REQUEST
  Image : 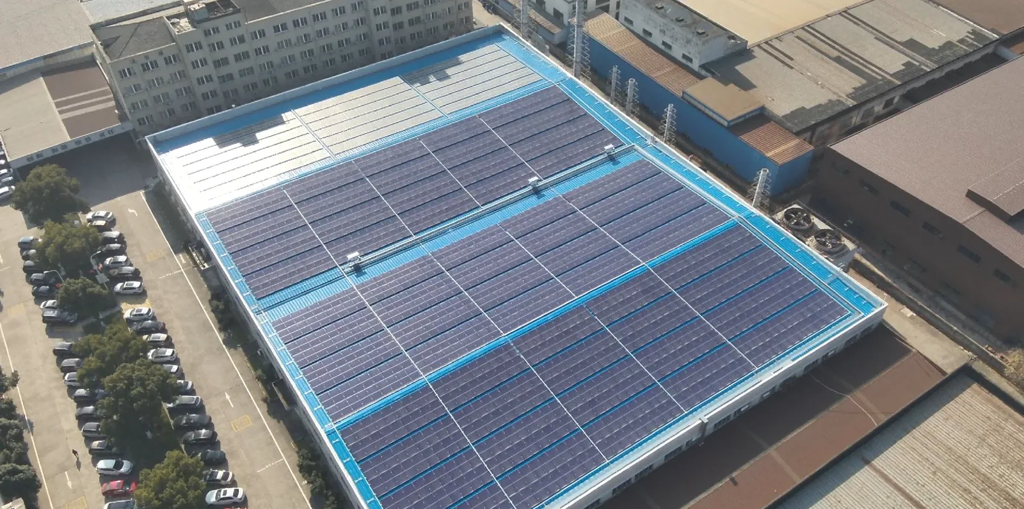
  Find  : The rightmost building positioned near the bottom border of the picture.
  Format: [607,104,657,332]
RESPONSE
[789,377,1024,509]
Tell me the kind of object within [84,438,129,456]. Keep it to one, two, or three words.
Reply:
car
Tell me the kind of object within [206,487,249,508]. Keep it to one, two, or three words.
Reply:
car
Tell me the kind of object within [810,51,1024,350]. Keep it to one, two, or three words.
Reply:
building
